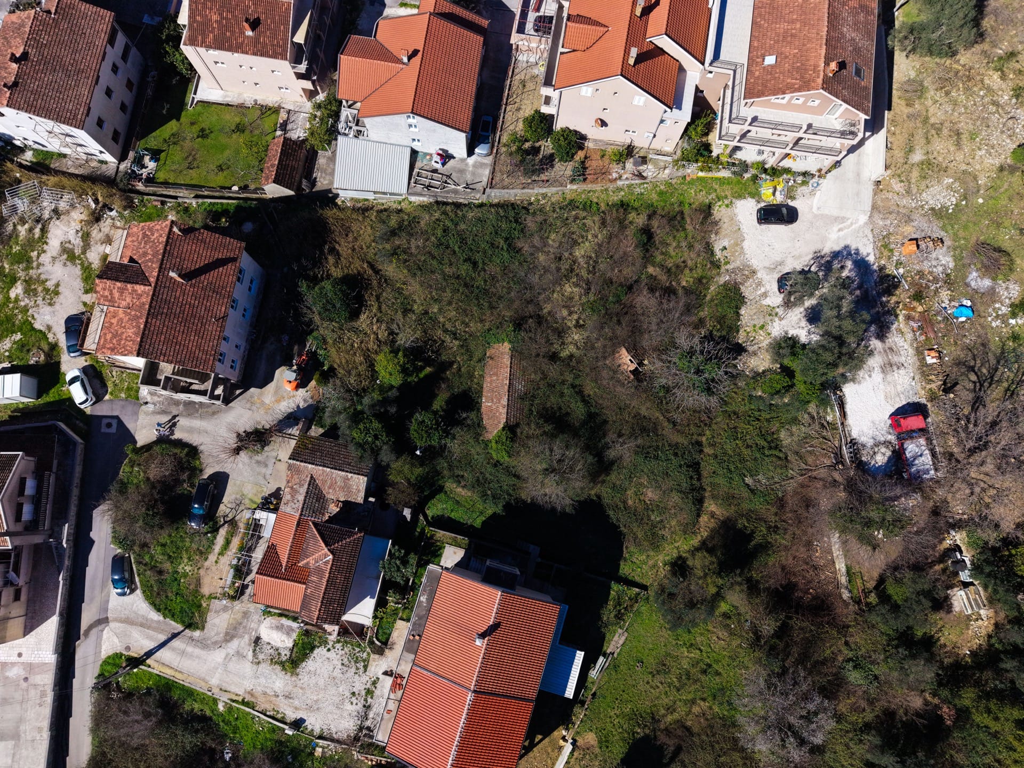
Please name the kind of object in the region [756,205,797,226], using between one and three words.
car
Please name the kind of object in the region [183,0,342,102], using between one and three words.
house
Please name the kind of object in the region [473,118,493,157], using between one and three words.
car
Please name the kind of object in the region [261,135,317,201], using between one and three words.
shed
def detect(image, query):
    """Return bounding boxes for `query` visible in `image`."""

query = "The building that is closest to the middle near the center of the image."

[481,344,523,435]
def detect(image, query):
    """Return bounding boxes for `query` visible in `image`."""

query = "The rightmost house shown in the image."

[694,0,880,160]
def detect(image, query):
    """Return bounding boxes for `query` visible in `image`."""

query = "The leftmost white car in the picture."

[67,367,95,408]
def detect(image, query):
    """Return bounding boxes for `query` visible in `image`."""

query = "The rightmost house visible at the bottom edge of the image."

[368,543,585,768]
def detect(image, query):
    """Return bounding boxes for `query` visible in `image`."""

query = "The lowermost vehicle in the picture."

[108,553,134,596]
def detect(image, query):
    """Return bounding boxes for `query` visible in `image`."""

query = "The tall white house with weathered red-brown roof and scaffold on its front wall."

[0,0,145,159]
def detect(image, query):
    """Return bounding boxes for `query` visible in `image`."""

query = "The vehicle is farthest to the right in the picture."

[888,414,940,483]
